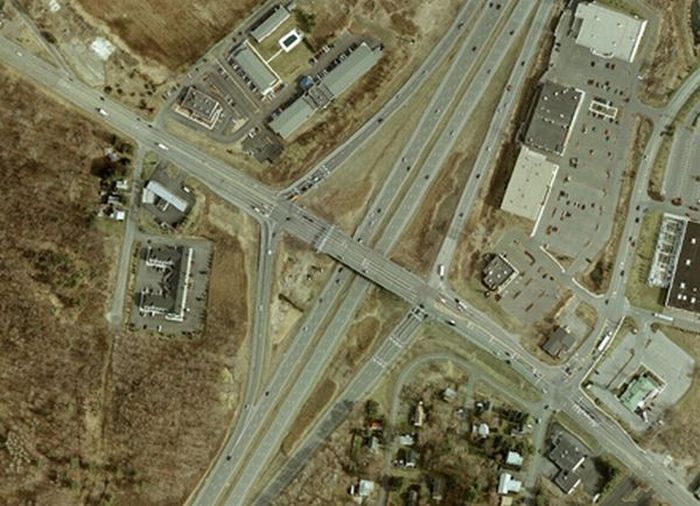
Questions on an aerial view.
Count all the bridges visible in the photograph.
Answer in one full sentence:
The count comes to 1 bridge.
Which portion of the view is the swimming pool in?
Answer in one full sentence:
The swimming pool appears toward the top of the photo.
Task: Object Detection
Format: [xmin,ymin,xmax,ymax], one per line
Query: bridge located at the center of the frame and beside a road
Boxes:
[302,220,428,297]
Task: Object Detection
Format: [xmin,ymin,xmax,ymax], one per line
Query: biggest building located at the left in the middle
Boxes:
[139,247,193,320]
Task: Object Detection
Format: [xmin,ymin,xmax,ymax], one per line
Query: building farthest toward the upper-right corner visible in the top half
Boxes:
[574,1,644,63]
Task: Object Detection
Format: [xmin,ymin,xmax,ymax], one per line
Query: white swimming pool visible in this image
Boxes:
[279,29,303,52]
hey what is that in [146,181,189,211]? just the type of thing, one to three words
building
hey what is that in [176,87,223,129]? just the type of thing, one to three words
building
